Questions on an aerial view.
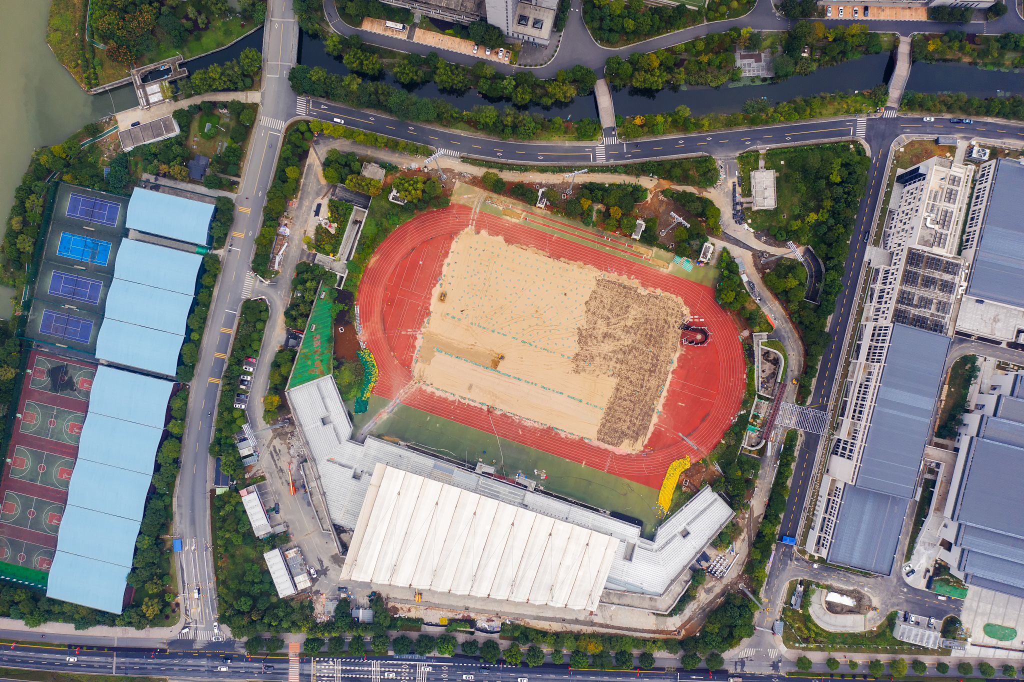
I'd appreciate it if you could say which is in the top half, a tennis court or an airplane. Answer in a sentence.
Visible in the top half is a tennis court.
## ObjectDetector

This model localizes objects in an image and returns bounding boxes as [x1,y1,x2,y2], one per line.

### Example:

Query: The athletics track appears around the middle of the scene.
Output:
[356,201,746,490]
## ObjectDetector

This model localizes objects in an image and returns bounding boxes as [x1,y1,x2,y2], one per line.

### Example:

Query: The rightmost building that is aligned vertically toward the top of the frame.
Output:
[959,157,1024,309]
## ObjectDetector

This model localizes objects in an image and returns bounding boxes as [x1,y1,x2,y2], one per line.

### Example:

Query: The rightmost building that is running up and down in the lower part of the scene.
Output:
[931,373,1024,600]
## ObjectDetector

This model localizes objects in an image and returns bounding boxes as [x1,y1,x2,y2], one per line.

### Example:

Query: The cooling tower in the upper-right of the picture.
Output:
[972,148,990,161]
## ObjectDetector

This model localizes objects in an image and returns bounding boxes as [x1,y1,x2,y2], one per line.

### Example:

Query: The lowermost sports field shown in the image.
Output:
[411,229,689,453]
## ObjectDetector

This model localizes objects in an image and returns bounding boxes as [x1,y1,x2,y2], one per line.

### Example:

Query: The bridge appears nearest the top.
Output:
[258,0,302,66]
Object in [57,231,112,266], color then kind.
blue tennis court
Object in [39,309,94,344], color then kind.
blue tennis court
